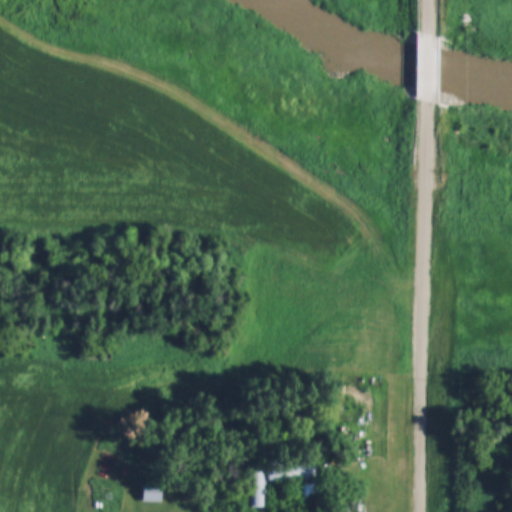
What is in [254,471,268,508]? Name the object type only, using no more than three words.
house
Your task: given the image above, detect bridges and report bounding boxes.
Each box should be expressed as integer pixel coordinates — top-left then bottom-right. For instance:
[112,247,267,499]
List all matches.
[418,32,441,105]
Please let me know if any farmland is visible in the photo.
Yes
